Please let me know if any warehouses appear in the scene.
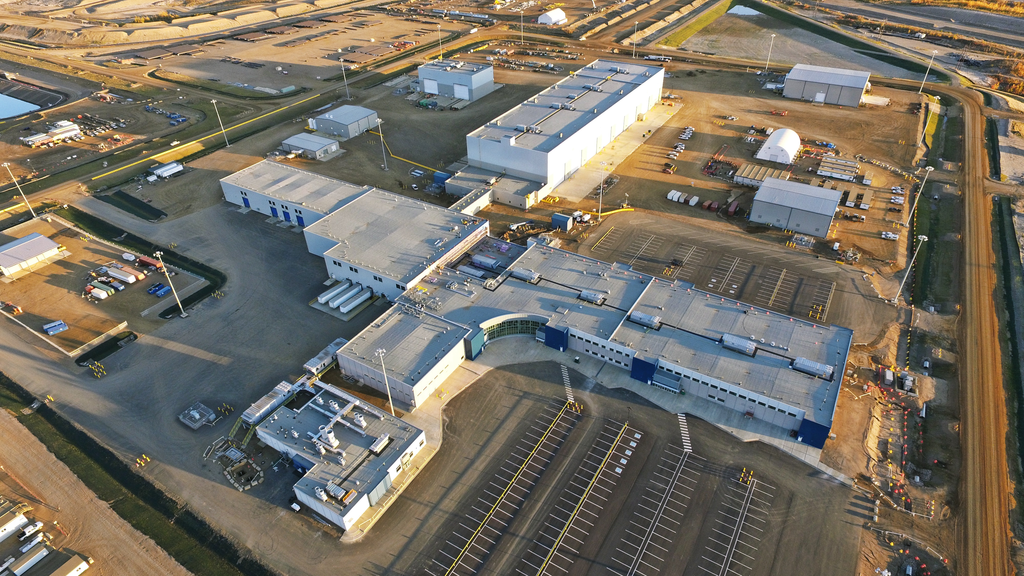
Yes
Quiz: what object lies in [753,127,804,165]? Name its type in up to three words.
tent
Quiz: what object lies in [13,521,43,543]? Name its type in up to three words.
truck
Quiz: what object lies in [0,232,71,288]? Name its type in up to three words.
shed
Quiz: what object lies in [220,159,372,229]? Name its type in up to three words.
building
